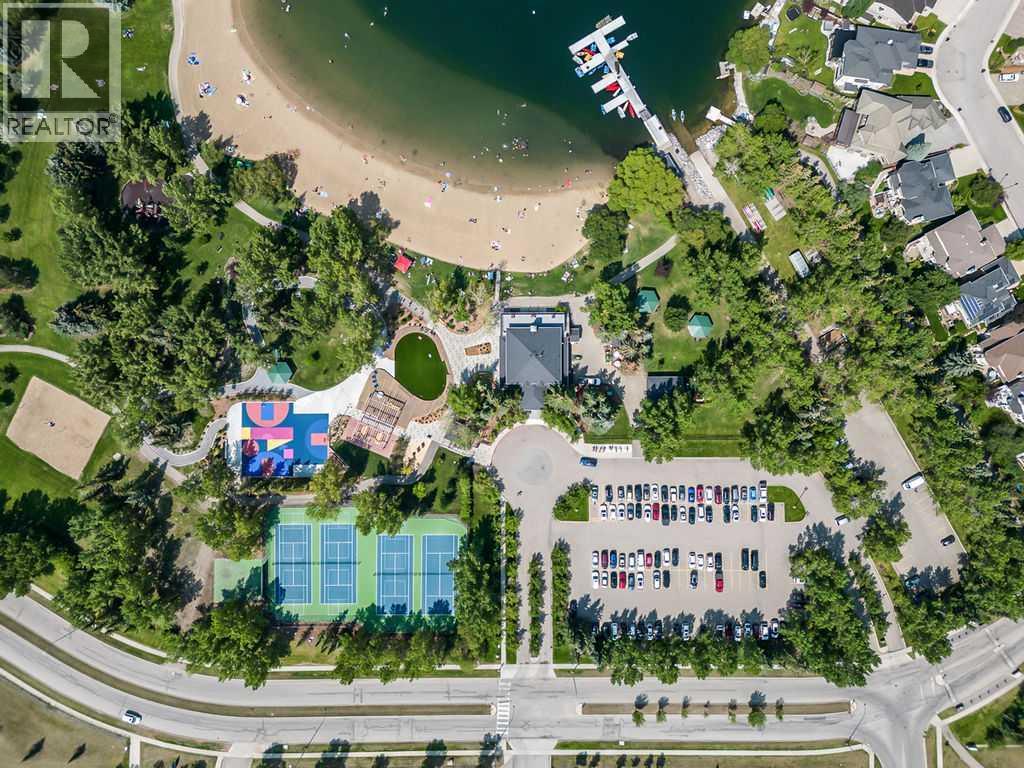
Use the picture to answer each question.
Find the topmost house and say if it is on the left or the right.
right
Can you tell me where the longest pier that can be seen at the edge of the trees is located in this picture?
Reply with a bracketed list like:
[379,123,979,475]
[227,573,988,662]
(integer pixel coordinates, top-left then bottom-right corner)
[569,14,676,158]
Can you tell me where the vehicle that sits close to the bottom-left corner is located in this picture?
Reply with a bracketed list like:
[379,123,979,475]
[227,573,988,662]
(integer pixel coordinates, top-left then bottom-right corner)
[124,711,141,723]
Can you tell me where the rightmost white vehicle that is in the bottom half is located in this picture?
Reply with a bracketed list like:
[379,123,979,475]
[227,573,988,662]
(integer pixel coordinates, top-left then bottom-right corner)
[903,475,923,489]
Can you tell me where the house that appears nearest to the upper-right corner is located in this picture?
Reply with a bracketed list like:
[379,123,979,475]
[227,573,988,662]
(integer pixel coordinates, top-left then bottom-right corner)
[870,0,942,31]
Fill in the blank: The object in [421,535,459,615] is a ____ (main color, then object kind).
blue tennis court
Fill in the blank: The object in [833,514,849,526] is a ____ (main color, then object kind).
white vehicle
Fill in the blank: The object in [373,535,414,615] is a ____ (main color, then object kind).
blue tennis court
